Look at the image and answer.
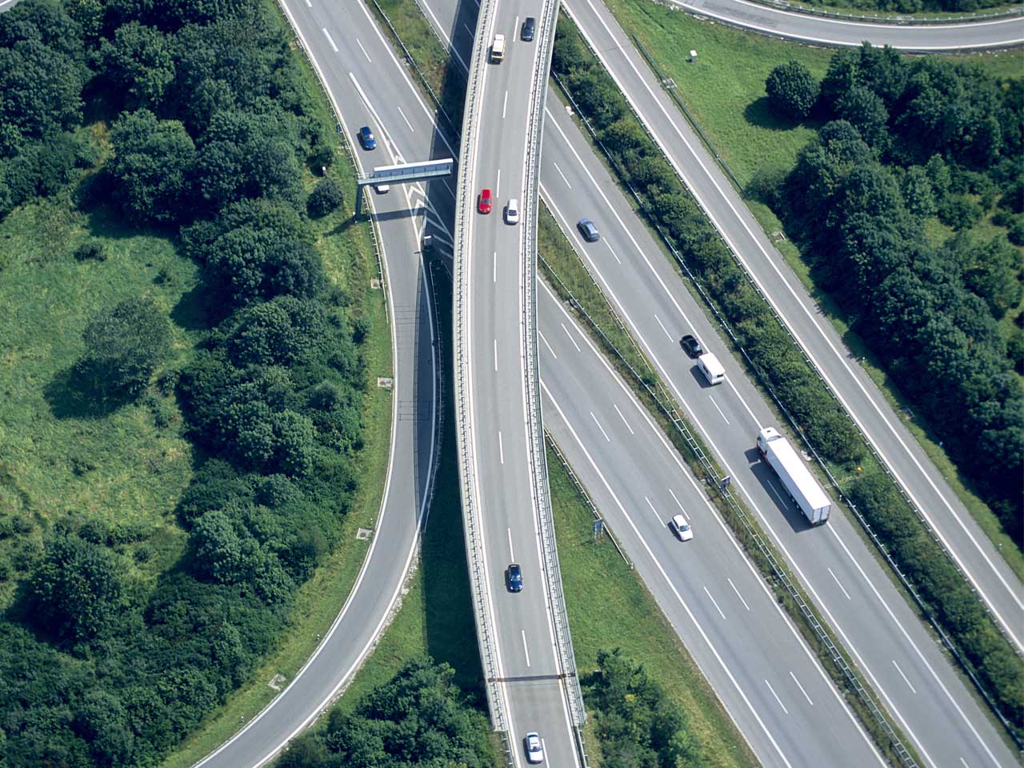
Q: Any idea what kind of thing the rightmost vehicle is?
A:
truck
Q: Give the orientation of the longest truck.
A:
at an angle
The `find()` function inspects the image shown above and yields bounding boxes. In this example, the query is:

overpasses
[453,0,585,741]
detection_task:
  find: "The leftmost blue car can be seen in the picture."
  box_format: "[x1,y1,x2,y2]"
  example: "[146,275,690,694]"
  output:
[360,127,376,150]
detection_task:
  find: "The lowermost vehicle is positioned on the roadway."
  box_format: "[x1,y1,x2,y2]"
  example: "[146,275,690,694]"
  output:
[525,733,543,763]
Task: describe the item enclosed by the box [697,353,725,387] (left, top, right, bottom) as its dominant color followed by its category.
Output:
white camper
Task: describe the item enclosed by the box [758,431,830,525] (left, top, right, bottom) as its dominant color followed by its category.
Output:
white truck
